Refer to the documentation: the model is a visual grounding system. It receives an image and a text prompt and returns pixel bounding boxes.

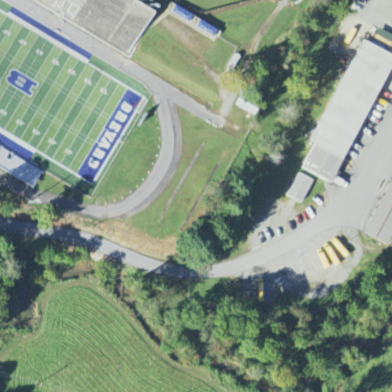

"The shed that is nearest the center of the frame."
[286,171,316,204]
